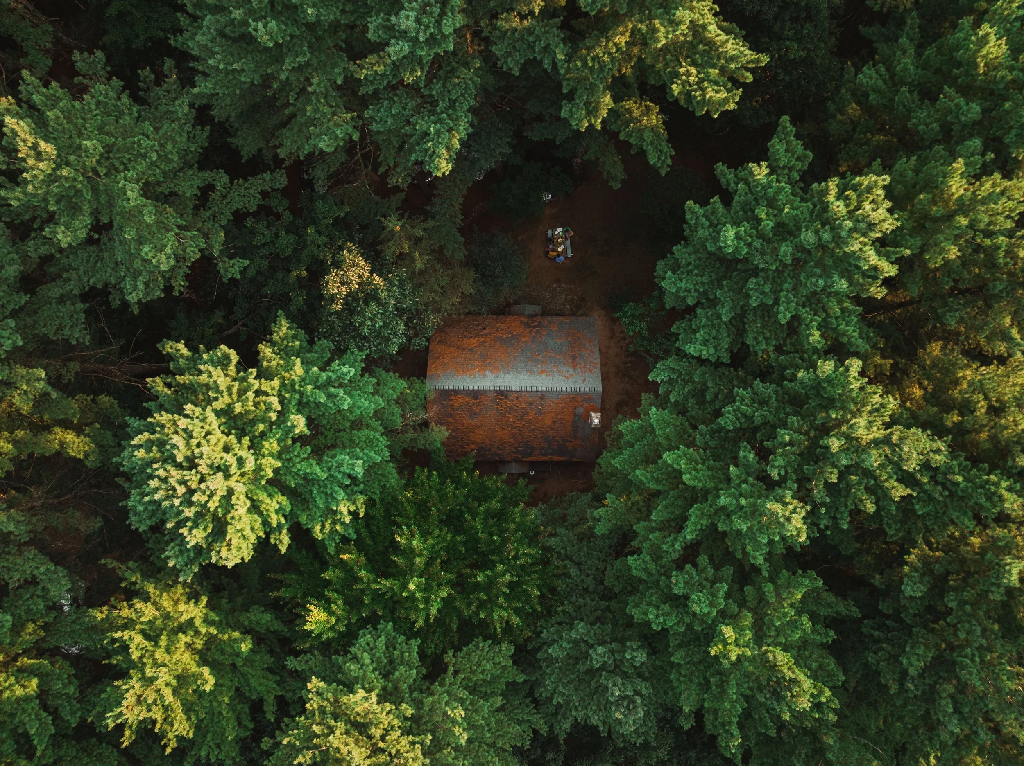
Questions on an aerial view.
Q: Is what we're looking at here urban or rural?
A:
rural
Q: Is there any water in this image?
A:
No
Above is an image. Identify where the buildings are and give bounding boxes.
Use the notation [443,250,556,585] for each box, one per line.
[426,305,602,474]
